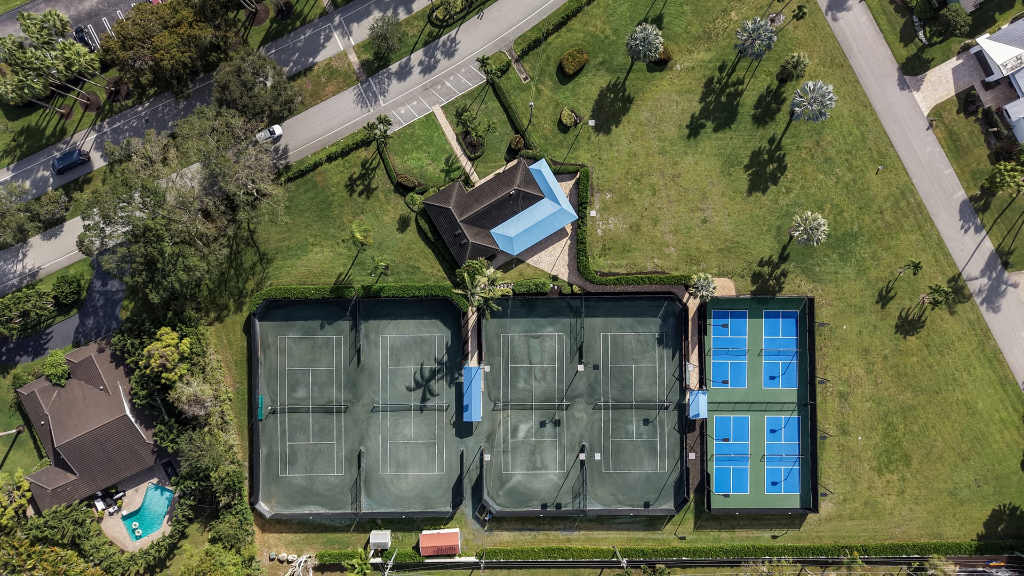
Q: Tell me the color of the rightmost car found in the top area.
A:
white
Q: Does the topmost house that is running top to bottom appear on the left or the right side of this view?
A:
right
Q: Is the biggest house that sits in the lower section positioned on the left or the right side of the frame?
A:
left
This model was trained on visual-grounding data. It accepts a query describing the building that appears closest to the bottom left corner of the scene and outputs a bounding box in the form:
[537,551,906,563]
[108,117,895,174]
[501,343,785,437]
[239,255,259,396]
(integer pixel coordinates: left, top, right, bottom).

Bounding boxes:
[15,332,159,514]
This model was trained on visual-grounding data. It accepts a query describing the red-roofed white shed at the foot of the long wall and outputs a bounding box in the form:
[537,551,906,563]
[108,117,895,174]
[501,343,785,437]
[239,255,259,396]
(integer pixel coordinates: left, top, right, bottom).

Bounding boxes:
[420,528,461,556]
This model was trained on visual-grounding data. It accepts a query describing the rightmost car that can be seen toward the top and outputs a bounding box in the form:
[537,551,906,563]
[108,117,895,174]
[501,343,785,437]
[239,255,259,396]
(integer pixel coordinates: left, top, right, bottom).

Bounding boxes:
[254,125,284,145]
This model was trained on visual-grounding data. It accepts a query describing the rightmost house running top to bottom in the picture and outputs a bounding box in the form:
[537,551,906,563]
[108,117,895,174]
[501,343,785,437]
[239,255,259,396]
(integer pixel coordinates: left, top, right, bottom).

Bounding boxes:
[968,16,1024,144]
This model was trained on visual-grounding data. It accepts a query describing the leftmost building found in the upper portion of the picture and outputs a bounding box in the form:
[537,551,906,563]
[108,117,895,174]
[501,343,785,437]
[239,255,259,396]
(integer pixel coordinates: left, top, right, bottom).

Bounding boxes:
[422,157,579,265]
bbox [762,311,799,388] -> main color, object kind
blue sports court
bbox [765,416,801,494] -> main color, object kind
blue sports court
